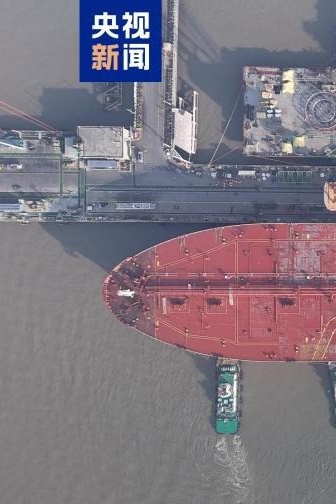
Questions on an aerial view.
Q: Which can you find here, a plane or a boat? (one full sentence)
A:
Visible in the photo is a boat.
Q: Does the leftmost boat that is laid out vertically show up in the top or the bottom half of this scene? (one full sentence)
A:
Seen from above, the leftmost boat that is laid out vertically lies in the bottom half of the view.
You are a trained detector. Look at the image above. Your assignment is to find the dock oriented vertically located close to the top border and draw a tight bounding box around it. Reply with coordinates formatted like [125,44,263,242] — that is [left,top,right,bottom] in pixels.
[131,0,177,150]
